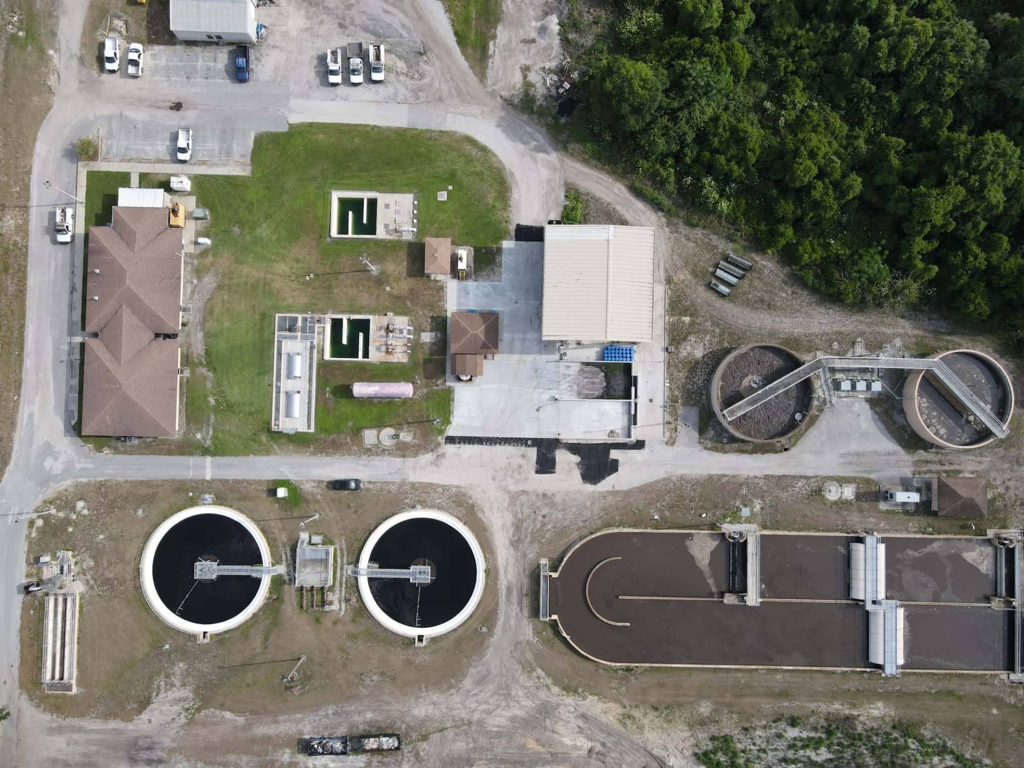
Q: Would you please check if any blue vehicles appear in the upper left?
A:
Yes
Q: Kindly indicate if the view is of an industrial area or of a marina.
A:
industrial area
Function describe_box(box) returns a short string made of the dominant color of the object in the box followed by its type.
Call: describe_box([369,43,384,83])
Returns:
white vehicle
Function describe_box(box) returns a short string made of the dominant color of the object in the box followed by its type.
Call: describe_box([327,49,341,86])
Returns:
white vehicle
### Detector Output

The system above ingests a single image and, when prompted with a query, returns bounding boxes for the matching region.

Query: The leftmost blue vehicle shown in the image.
[234,47,250,82]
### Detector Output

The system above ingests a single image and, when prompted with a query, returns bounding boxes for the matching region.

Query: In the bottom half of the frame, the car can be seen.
[333,478,362,492]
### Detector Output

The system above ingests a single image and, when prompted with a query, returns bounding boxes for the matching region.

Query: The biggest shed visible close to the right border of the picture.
[930,477,988,518]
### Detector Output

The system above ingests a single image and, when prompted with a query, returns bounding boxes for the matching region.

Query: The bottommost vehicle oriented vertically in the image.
[56,208,74,244]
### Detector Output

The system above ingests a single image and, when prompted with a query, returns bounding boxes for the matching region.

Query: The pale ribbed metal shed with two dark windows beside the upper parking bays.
[170,0,260,48]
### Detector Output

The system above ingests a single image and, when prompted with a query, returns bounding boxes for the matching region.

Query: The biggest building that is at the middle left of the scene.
[81,188,186,436]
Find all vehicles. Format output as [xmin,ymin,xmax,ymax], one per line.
[327,49,341,86]
[348,43,362,84]
[369,43,384,83]
[138,0,152,14]
[333,478,362,492]
[176,128,193,164]
[234,47,250,82]
[128,43,145,79]
[104,38,120,73]
[56,208,74,244]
